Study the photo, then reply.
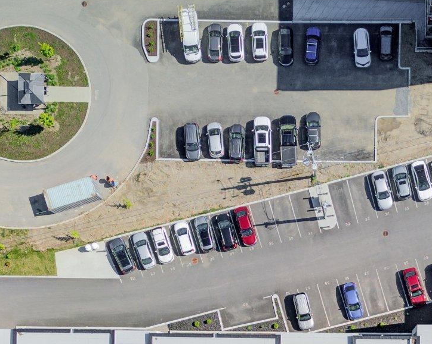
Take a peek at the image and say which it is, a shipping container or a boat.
shipping container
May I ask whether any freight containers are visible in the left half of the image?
Yes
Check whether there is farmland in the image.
No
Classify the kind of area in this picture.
parking lot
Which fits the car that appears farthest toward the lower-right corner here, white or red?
red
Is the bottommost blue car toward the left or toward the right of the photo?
right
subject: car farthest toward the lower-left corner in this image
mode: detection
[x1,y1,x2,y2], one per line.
[109,238,134,275]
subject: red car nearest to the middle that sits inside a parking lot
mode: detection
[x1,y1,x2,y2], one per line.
[235,207,257,246]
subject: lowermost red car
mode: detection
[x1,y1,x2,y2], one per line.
[403,267,425,306]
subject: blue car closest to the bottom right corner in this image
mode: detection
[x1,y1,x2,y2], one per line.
[340,281,361,321]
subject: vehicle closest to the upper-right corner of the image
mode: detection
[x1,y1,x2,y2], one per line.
[376,21,395,64]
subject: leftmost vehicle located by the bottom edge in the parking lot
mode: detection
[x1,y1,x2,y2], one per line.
[292,292,313,329]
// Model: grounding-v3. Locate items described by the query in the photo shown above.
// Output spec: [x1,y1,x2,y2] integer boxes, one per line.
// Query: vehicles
[389,163,412,202]
[252,117,272,166]
[403,267,425,306]
[206,123,225,159]
[411,161,432,200]
[303,27,321,66]
[175,8,201,64]
[353,27,372,69]
[235,207,257,246]
[132,231,156,270]
[302,112,320,150]
[225,23,244,63]
[250,22,269,61]
[205,25,224,61]
[192,214,217,252]
[151,226,176,265]
[275,26,294,68]
[278,117,297,168]
[182,120,203,163]
[340,281,361,321]
[370,171,392,210]
[109,238,134,275]
[292,292,313,329]
[226,125,245,163]
[376,21,395,64]
[172,219,197,257]
[215,212,238,251]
